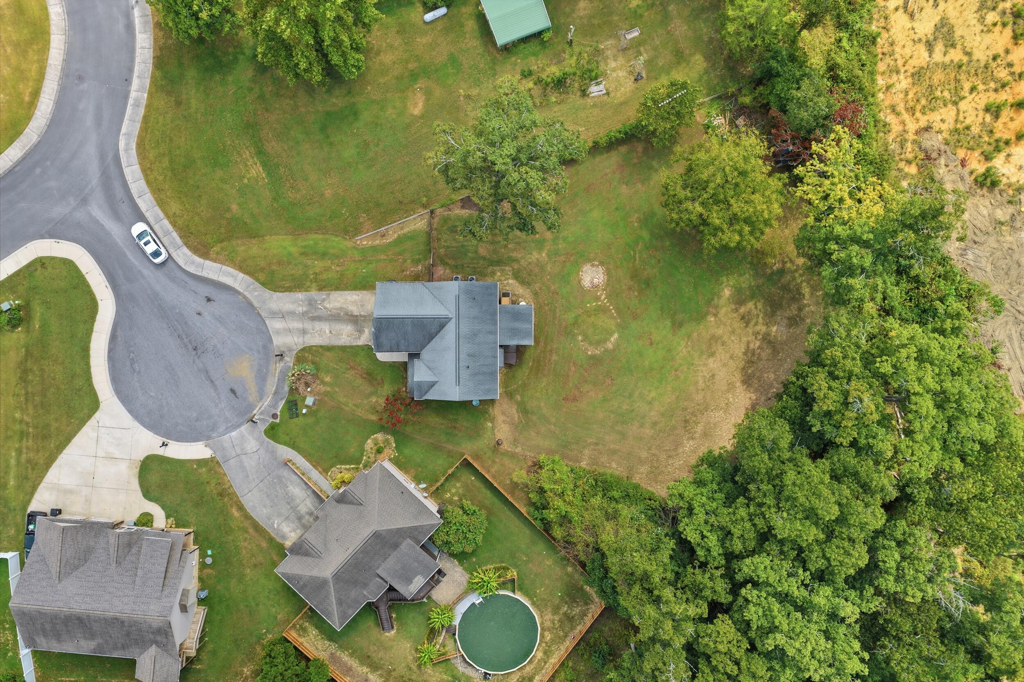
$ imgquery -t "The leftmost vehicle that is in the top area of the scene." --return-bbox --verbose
[128,219,165,265]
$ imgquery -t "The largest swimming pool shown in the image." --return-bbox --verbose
[451,586,539,673]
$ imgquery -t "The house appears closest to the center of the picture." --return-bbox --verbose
[373,281,534,401]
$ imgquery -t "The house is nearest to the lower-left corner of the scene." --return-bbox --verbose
[9,514,216,682]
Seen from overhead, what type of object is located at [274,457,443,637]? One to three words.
house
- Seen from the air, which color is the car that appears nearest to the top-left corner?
white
